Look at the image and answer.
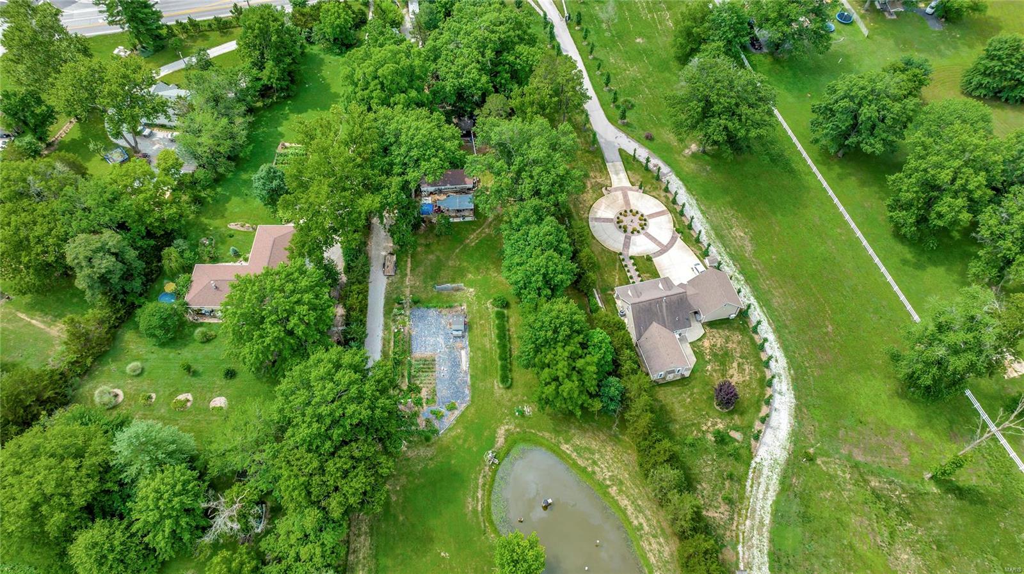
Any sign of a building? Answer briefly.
Yes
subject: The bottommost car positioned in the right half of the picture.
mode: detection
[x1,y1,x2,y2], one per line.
[687,259,703,277]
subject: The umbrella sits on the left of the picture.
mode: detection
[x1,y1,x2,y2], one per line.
[162,282,177,294]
